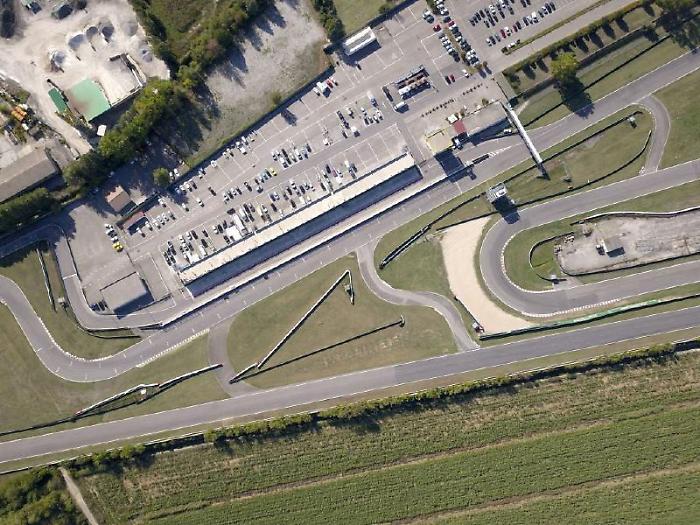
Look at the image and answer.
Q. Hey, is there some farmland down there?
Yes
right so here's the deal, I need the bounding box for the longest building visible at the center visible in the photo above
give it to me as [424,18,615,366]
[181,152,414,284]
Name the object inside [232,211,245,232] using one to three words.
vehicle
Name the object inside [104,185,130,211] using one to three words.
house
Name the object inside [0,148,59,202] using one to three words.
building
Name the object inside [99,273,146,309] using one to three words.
building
